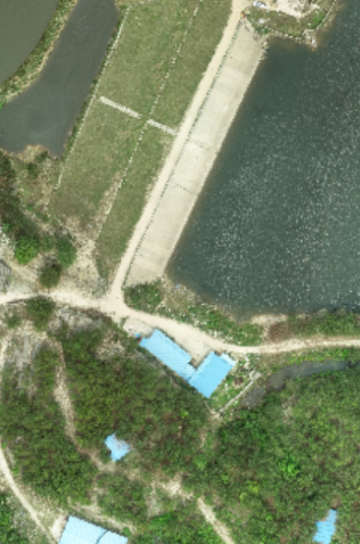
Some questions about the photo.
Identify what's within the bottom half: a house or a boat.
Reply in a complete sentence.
Looking within the bottom half, you will find a house.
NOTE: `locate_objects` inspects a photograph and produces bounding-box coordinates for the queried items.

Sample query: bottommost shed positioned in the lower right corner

[313,511,335,544]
